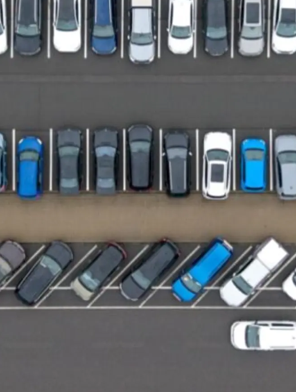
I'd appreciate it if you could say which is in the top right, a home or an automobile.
automobile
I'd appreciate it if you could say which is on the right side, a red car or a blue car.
blue car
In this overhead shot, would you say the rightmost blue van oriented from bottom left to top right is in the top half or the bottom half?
bottom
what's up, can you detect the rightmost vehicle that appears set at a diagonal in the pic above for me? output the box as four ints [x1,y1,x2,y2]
[221,233,292,307]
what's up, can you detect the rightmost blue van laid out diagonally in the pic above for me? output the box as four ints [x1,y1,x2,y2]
[172,234,234,303]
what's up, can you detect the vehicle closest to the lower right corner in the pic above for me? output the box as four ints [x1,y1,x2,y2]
[230,320,296,353]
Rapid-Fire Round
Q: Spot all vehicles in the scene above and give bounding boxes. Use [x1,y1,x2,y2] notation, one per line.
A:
[230,320,296,353]
[221,233,292,307]
[201,131,234,200]
[53,129,84,194]
[237,0,268,56]
[72,240,126,301]
[11,0,44,55]
[13,239,75,308]
[126,0,158,64]
[271,0,296,55]
[50,0,83,52]
[87,0,119,55]
[281,266,296,301]
[239,138,269,193]
[166,0,196,55]
[0,134,8,191]
[124,125,156,191]
[15,136,45,199]
[0,0,8,54]
[274,135,296,199]
[161,131,194,197]
[121,237,181,301]
[0,239,25,289]
[172,234,234,303]
[90,129,121,194]
[201,0,232,55]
